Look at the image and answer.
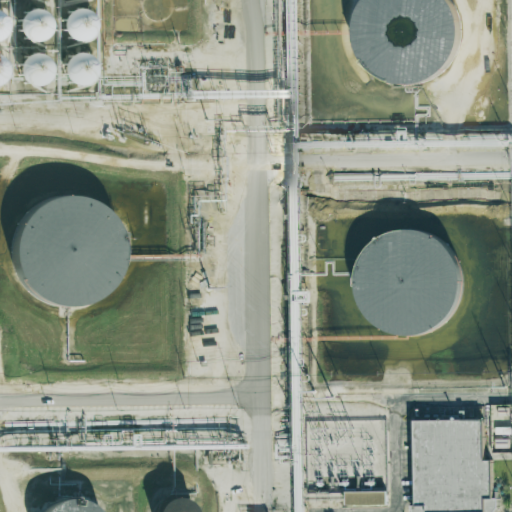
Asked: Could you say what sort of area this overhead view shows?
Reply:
industrial area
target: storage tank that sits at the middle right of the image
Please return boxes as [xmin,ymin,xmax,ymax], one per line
[354,228,462,336]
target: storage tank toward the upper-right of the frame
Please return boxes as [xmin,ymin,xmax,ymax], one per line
[350,0,461,88]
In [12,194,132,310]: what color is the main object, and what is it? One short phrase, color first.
gray storage tank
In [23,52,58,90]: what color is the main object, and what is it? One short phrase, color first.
white storage tank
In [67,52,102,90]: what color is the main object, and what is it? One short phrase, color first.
white storage tank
